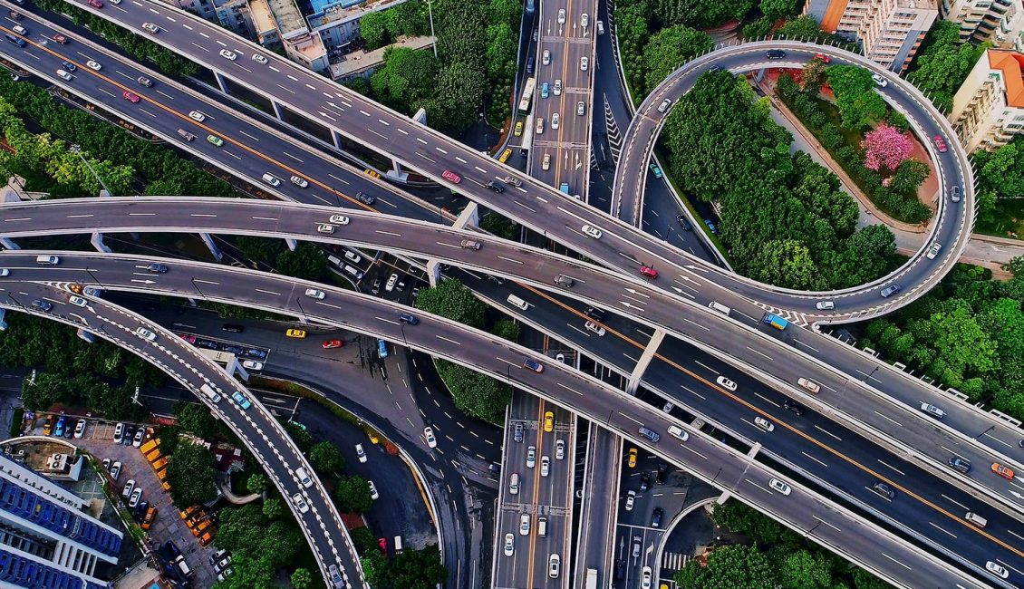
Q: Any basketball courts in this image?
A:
No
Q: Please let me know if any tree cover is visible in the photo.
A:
Yes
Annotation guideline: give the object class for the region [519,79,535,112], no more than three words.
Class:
vehicle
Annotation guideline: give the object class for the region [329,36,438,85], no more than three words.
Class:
building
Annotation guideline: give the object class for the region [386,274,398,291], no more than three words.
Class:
vehicle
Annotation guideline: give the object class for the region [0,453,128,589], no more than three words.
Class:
building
